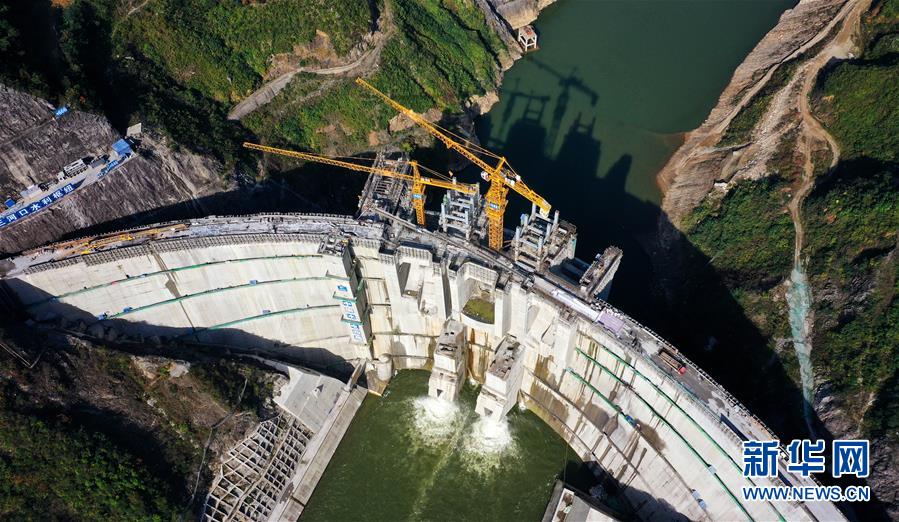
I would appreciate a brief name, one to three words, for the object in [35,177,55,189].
vehicle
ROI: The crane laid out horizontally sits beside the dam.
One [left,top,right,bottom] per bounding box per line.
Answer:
[242,145,478,229]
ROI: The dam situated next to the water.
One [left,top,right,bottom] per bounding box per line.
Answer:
[0,209,859,522]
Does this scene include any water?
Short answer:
Yes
